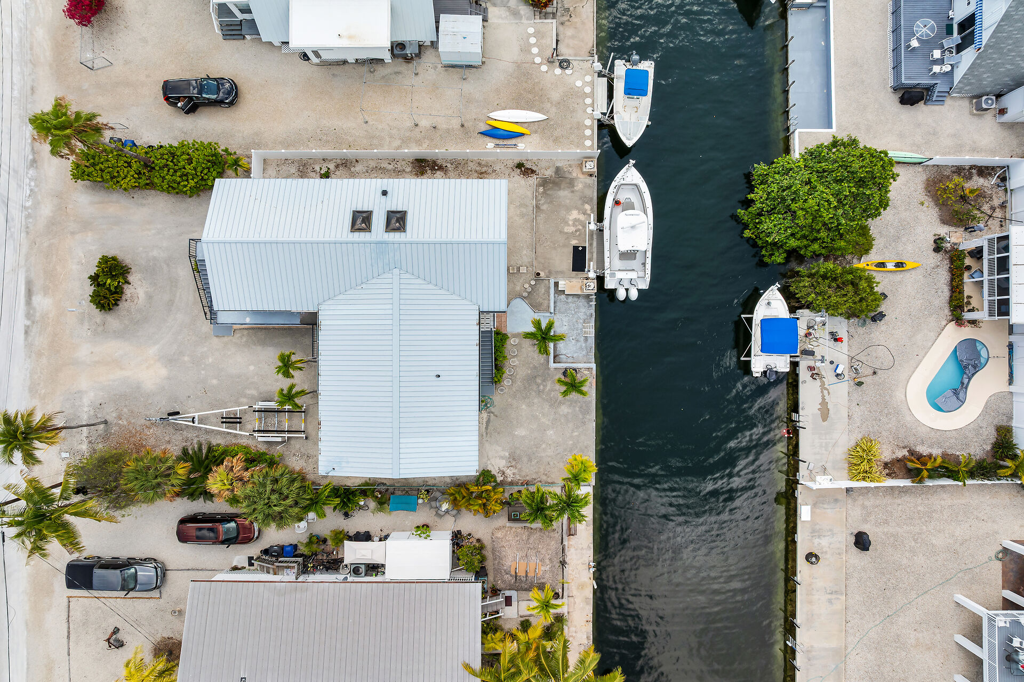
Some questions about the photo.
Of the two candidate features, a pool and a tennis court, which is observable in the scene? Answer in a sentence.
The image shows a pool.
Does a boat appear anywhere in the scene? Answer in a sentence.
Yes, there's a boat here.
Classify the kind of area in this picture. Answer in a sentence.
What you see here is a residential area.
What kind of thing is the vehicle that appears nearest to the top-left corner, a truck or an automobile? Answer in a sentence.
The vehicle that appears nearest to the top-left corner is an automobile.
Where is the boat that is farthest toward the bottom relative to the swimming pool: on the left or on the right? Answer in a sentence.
The boat that is farthest toward the bottom can be seen on the left of the swimming pool.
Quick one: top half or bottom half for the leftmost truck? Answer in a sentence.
The leftmost truck sits in the bottom half of the picture.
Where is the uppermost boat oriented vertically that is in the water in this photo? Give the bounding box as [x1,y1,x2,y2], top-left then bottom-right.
[614,50,653,147]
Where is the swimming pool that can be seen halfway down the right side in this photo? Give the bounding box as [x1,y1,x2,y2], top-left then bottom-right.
[905,320,1010,430]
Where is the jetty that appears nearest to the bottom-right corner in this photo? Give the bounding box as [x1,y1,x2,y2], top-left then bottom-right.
[789,482,847,682]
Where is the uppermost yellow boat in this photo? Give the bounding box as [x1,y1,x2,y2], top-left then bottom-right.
[484,119,530,133]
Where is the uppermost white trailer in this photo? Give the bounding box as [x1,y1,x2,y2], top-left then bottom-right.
[146,401,306,449]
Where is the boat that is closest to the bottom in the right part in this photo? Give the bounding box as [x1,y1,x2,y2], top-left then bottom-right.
[748,283,799,386]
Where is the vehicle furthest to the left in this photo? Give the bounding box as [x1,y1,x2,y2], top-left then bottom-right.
[65,553,166,599]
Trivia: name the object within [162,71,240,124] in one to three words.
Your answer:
car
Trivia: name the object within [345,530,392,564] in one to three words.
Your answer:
gazebo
